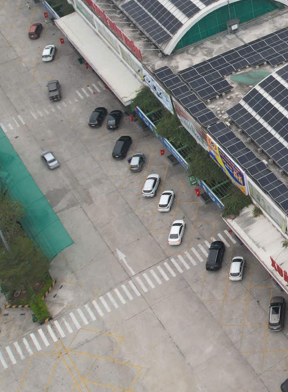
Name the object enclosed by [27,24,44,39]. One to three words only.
car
